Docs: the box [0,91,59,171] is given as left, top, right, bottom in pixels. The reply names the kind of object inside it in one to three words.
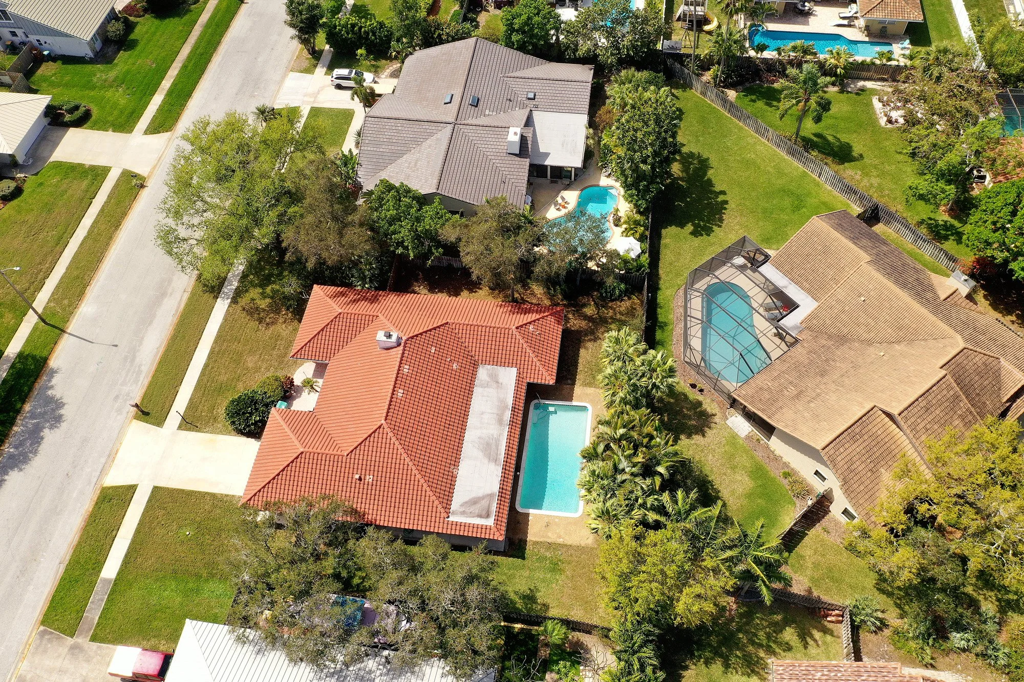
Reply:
house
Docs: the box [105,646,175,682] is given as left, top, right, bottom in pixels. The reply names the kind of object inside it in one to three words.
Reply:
truck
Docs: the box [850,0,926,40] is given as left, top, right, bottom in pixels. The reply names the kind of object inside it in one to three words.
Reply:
building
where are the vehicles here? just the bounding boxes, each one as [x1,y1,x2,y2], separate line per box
[105,646,175,682]
[327,69,376,93]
